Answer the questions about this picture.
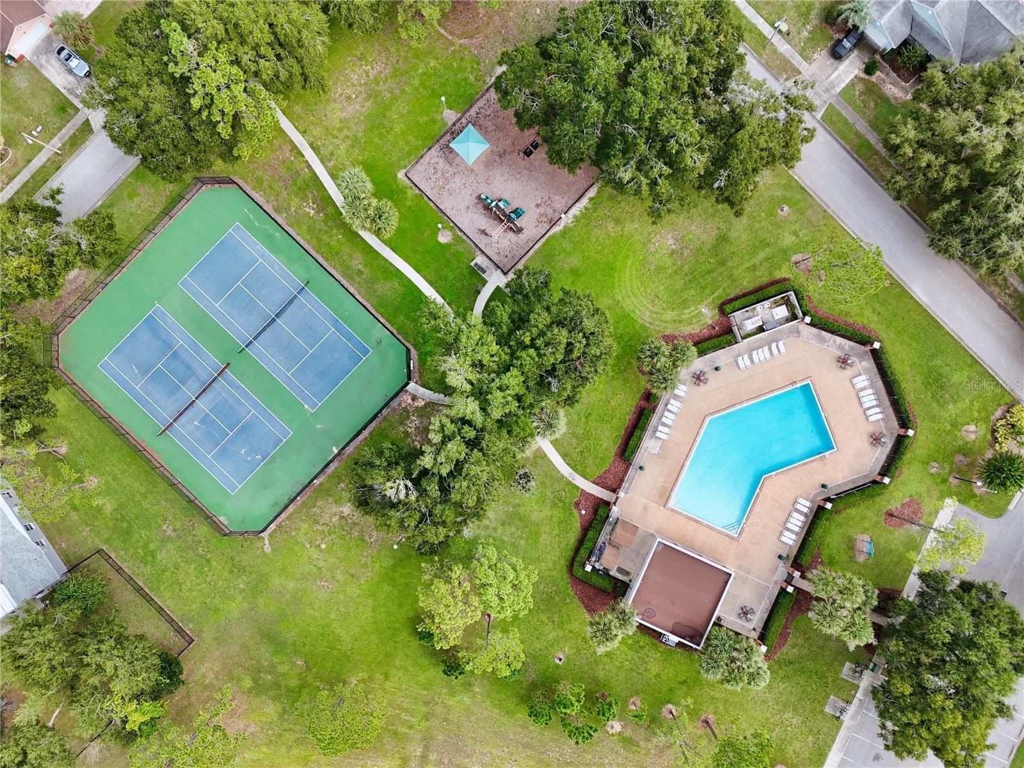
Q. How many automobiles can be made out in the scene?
2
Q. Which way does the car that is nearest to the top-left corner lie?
at an angle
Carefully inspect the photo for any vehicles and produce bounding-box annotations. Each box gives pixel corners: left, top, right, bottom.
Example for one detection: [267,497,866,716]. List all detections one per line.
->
[830,27,866,63]
[55,44,93,79]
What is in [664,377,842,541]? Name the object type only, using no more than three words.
swimming pool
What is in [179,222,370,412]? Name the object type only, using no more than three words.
tennis court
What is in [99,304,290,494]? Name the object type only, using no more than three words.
tennis court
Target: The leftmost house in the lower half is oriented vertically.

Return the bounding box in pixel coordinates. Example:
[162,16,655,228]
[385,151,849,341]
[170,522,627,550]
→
[0,473,67,625]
